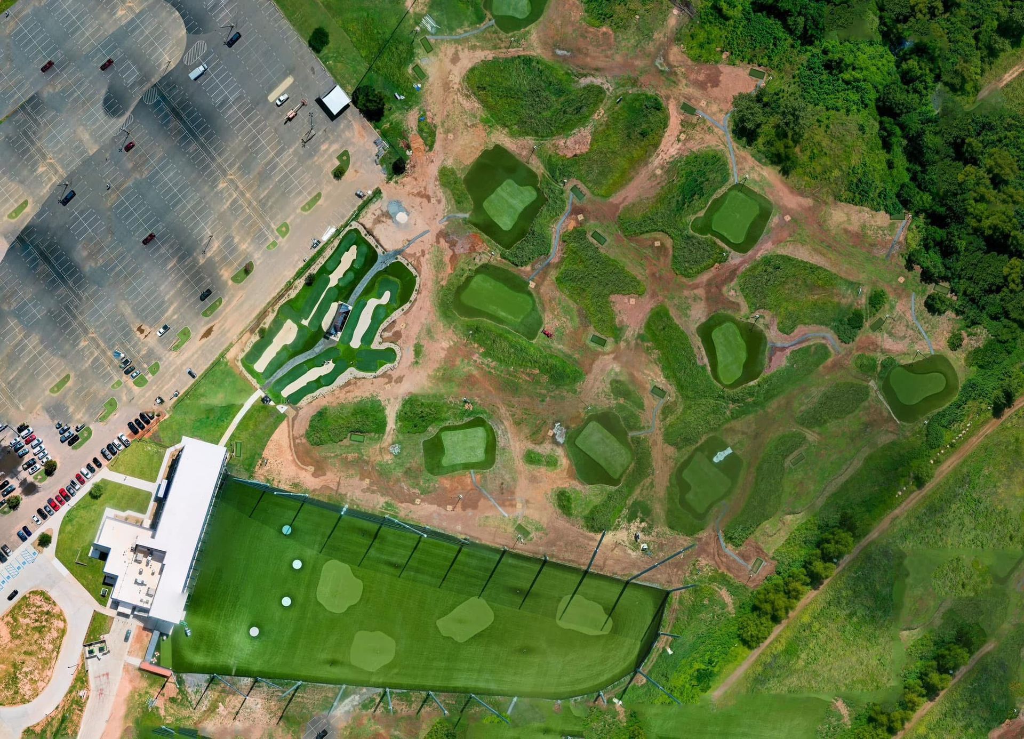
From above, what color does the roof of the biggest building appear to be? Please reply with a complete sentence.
From above, the roof of the biggest building looks white.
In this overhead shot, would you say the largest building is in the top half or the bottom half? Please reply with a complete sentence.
The largest building sits in the bottom half of the picture.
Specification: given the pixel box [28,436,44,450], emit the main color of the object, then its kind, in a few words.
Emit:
white vehicle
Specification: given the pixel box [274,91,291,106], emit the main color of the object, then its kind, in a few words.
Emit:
white vehicle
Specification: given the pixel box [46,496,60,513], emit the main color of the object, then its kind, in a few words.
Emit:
red vehicle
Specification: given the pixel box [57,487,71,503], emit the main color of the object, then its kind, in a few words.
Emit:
red vehicle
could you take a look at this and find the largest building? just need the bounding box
[88,436,236,624]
